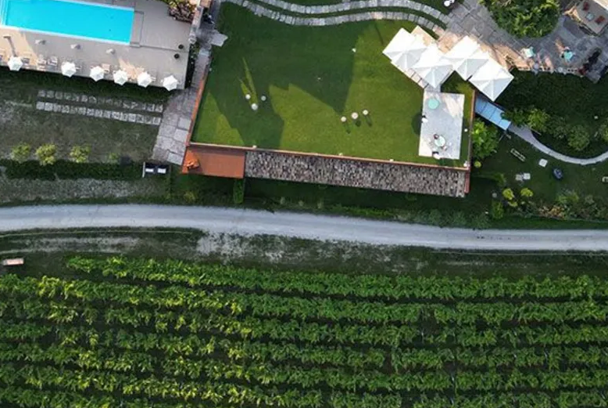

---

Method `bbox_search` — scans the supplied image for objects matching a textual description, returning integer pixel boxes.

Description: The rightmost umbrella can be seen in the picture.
[469,51,515,101]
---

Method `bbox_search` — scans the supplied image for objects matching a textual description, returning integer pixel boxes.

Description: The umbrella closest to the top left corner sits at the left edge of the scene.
[9,55,23,71]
